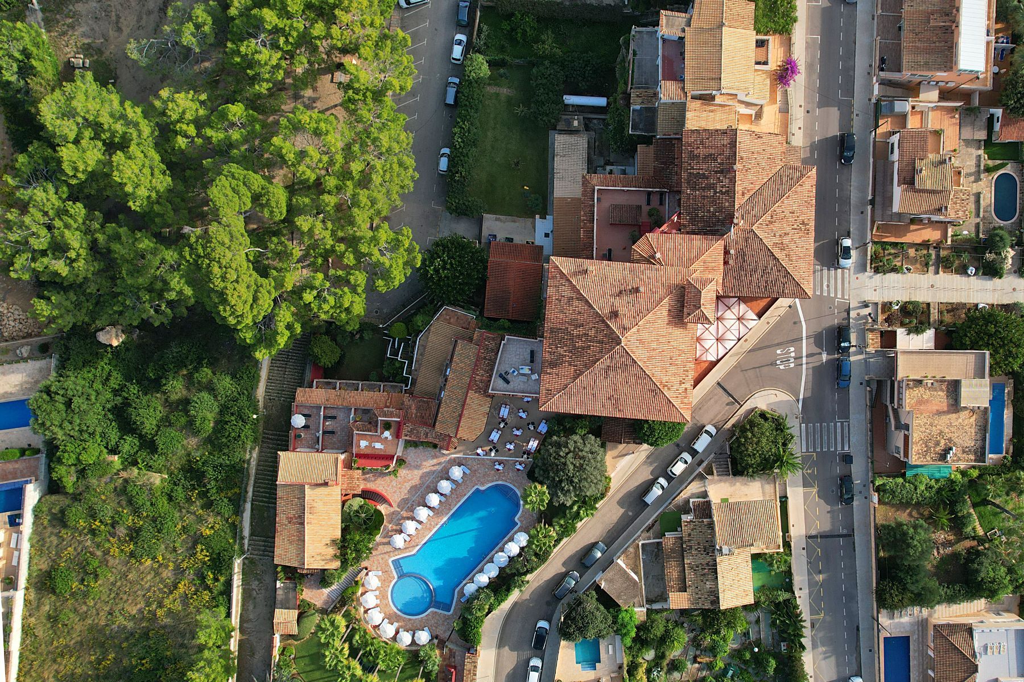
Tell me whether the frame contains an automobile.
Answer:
Yes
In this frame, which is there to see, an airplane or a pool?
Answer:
pool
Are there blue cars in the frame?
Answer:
Yes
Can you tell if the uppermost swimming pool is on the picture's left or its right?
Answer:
right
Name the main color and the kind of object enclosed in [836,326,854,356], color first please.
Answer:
black car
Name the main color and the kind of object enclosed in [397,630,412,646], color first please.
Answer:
white umbrella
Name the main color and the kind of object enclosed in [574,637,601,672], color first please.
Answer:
blue swimming pool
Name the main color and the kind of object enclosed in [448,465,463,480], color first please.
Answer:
white umbrella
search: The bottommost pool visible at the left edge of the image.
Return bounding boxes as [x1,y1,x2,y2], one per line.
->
[0,483,24,513]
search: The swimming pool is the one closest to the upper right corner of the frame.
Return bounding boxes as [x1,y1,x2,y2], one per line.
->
[991,170,1021,222]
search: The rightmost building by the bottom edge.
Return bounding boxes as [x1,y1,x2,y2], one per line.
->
[912,609,1024,682]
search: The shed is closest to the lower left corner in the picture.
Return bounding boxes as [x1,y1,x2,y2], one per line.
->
[273,576,302,636]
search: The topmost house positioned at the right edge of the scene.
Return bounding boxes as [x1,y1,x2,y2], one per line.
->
[876,0,997,101]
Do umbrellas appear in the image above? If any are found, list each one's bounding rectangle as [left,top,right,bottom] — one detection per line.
[289,412,307,430]
[463,581,478,596]
[390,534,405,549]
[402,520,417,535]
[368,608,383,623]
[380,620,395,636]
[493,551,508,567]
[436,479,451,494]
[362,592,377,607]
[414,507,429,522]
[514,532,529,547]
[397,630,412,646]
[448,465,463,480]
[504,541,520,556]
[474,572,489,586]
[415,628,430,644]
[483,563,498,578]
[426,492,441,508]
[365,574,380,589]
